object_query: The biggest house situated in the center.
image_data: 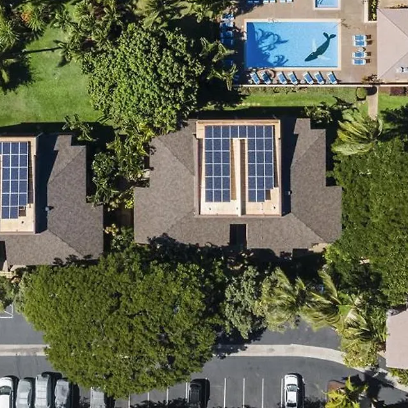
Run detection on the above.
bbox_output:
[134,115,341,258]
